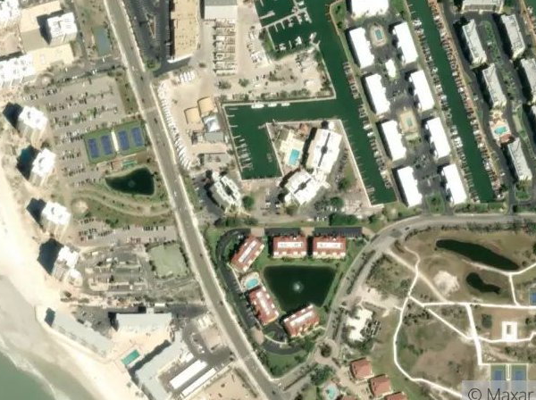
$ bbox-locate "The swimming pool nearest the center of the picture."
[280,133,305,166]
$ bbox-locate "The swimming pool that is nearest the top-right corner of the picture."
[491,118,510,139]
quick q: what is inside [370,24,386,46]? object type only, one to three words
swimming pool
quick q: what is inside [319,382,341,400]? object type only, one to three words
swimming pool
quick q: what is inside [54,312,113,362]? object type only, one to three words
building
